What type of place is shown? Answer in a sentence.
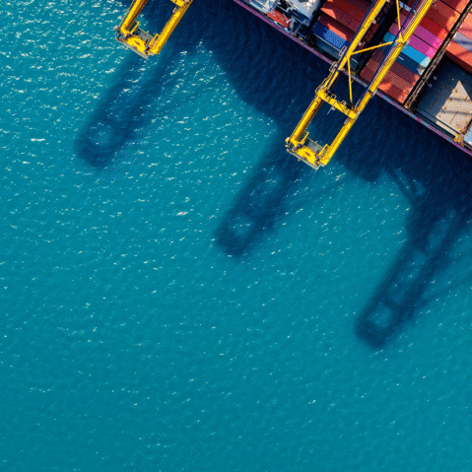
This image shows a port.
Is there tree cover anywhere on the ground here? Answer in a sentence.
No, tree cover can't be seen anywhere here.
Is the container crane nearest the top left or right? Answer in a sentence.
The container crane nearest the top sits on the left side.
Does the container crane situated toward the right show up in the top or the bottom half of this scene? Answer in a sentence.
The container crane situated toward the right is in the top half of the image.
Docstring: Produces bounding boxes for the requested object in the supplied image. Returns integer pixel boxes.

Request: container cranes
[281,0,429,168]
[111,0,191,58]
